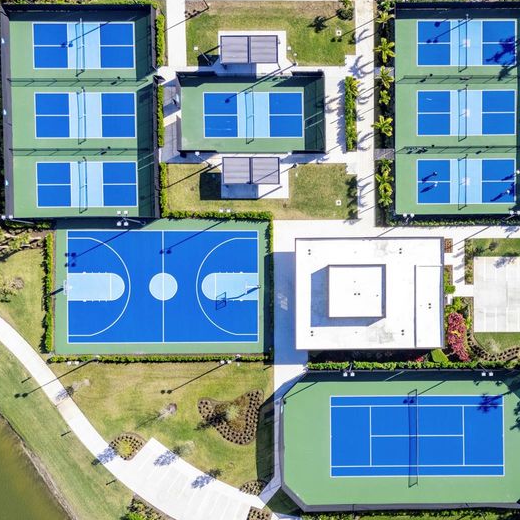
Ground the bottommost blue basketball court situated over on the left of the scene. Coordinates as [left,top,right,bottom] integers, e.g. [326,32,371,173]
[55,219,269,354]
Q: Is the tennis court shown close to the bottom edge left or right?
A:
right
